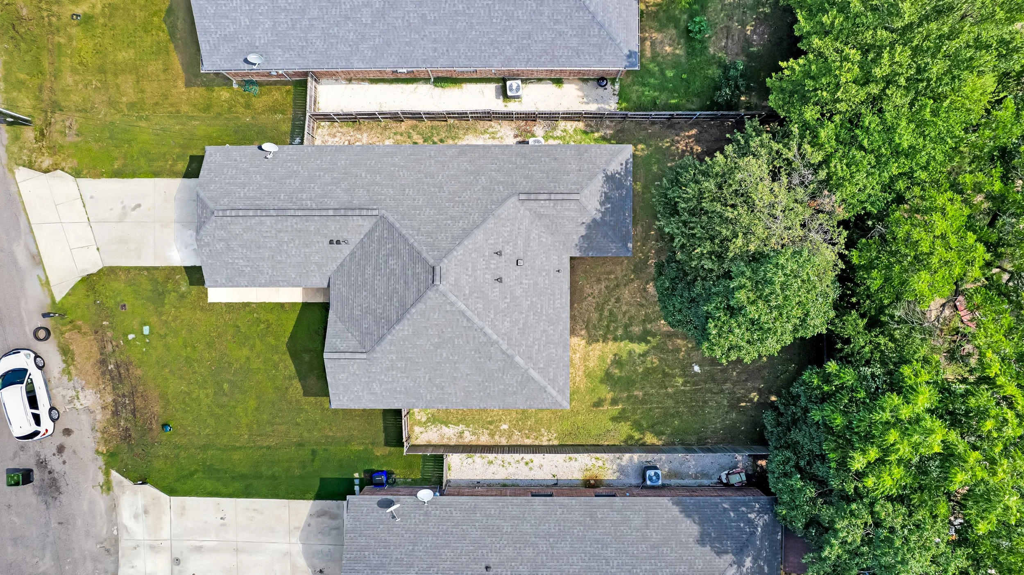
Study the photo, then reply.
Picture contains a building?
Yes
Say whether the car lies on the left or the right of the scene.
left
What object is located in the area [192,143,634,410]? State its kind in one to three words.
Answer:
house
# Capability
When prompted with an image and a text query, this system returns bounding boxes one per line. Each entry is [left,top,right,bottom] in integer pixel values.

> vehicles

[0,347,60,443]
